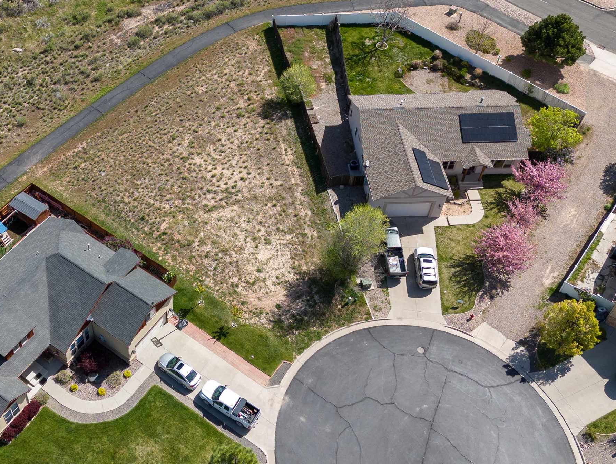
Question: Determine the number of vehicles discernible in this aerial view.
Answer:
four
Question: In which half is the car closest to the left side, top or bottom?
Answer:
bottom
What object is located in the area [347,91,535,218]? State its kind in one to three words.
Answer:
house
